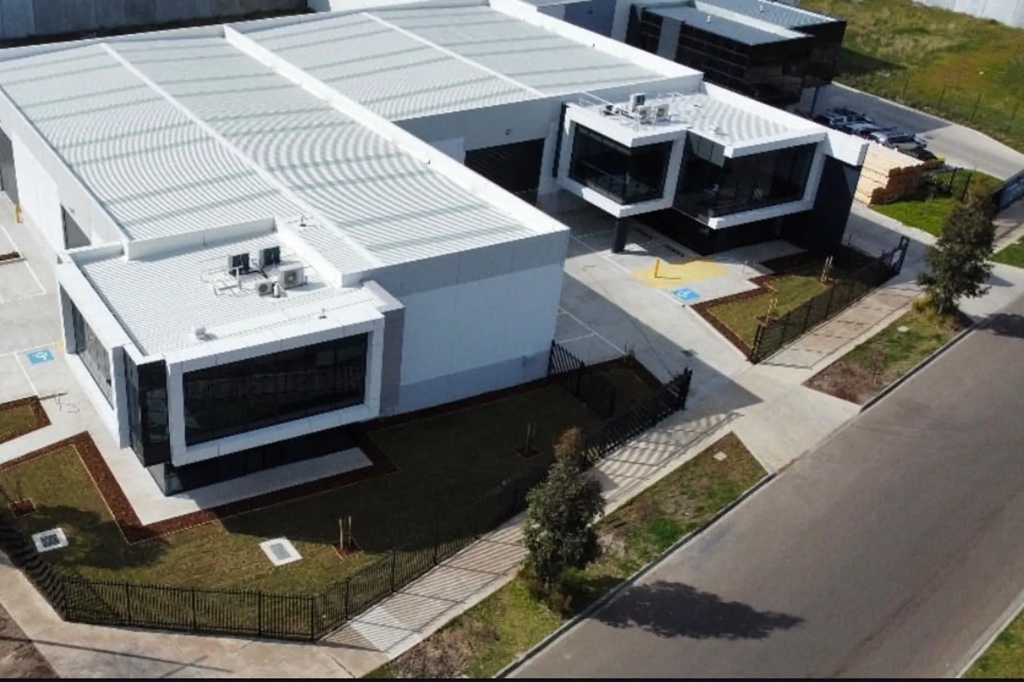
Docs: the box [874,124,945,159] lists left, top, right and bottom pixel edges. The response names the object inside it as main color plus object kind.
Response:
gray car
